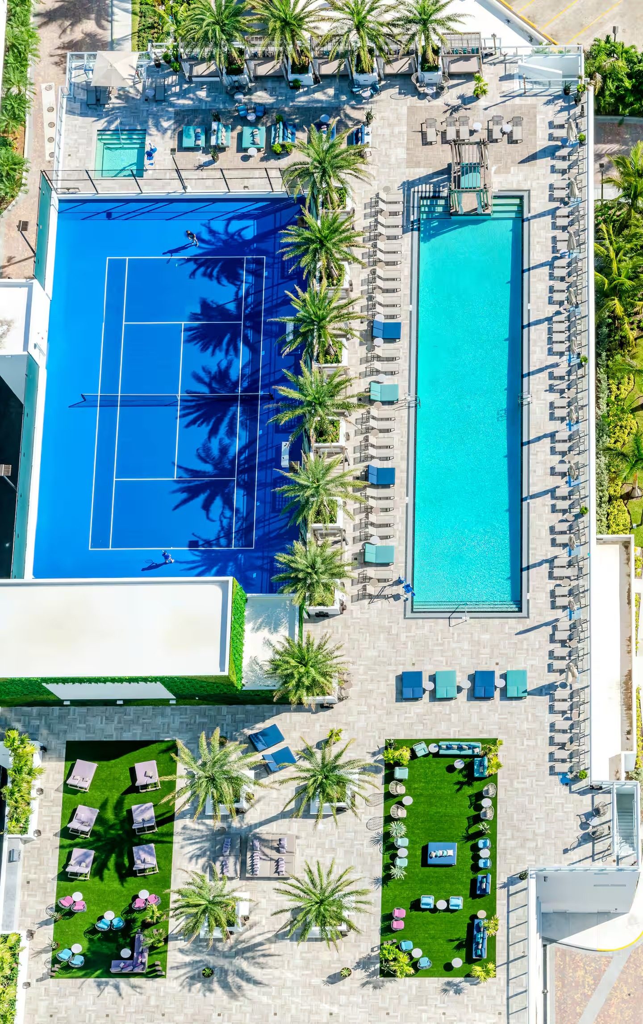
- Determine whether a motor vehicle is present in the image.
No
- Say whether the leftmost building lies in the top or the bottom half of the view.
top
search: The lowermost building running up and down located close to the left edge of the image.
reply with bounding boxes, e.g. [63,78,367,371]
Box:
[0,279,50,397]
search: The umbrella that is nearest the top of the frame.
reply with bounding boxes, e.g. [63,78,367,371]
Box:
[91,51,139,96]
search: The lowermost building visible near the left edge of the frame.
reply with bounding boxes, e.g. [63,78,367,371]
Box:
[0,577,250,711]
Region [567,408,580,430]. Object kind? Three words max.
umbrella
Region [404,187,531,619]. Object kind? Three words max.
swimming pool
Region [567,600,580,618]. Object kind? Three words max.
umbrella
